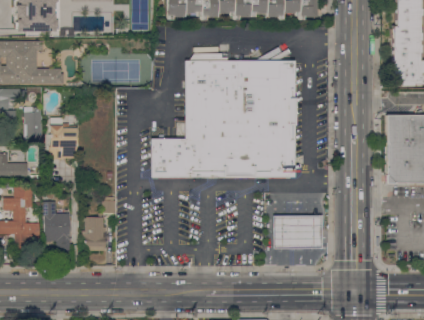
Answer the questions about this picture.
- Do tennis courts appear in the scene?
Yes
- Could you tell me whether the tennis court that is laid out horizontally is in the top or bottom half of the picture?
top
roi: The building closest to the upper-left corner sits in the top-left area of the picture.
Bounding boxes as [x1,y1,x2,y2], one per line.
[17,0,60,32]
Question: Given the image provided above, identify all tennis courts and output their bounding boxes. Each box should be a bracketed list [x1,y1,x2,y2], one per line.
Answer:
[82,55,153,86]
[130,0,150,32]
